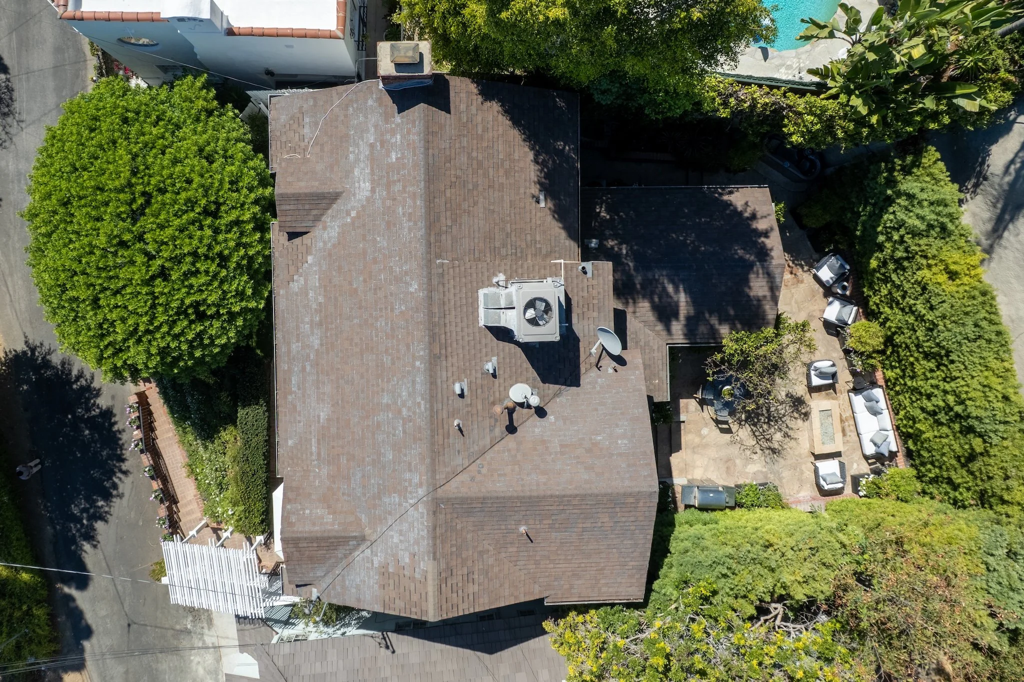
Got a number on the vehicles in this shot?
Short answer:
none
